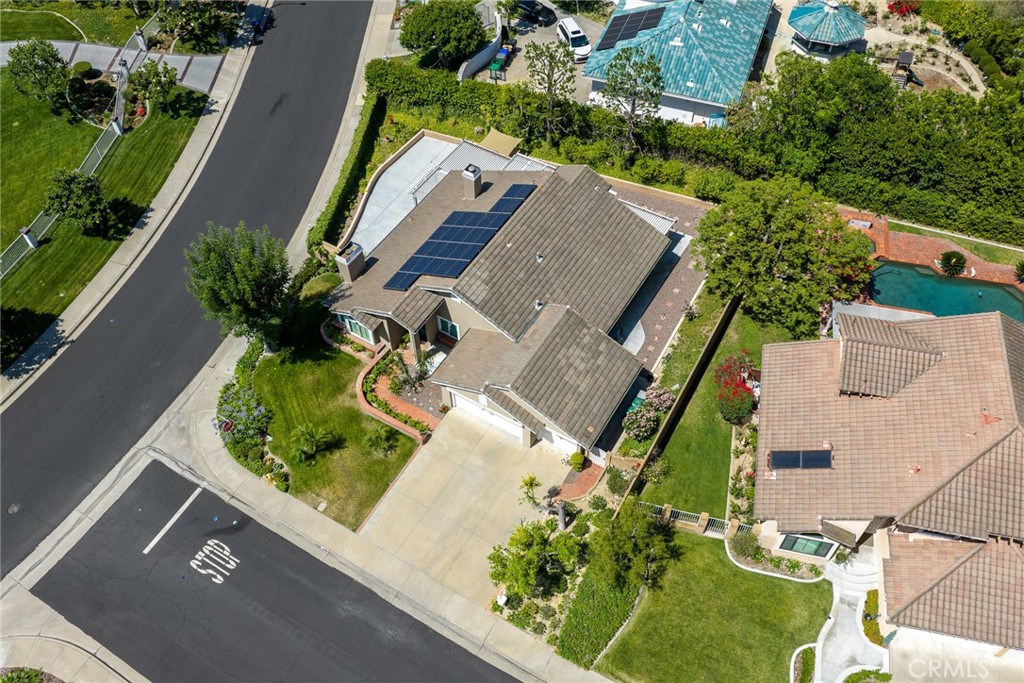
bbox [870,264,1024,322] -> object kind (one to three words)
swimming pool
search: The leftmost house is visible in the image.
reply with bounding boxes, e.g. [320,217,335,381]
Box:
[324,163,672,459]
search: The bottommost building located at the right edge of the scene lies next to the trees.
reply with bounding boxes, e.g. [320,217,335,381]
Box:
[753,310,1024,665]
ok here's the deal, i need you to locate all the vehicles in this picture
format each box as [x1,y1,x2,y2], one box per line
[517,0,552,23]
[559,19,591,62]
